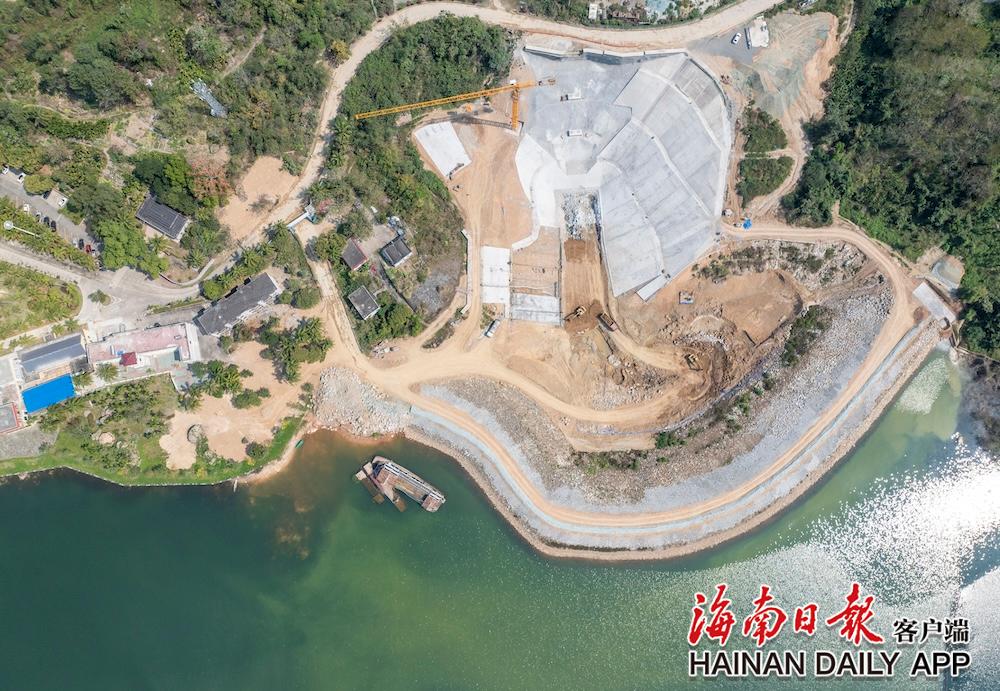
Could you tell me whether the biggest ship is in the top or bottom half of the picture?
bottom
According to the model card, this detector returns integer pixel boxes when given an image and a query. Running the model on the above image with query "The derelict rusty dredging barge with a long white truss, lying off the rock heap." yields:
[355,456,445,511]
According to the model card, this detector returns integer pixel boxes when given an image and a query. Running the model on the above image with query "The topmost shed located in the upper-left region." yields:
[191,81,229,121]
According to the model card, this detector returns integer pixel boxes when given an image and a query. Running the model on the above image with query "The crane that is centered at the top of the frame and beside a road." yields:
[354,74,562,136]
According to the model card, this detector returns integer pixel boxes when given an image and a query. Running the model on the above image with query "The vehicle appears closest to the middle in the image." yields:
[485,318,499,337]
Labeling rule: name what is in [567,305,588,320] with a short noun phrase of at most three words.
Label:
work vehicle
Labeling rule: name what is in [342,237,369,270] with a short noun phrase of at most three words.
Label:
house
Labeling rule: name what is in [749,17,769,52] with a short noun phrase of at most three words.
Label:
building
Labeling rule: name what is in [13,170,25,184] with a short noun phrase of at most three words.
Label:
vehicle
